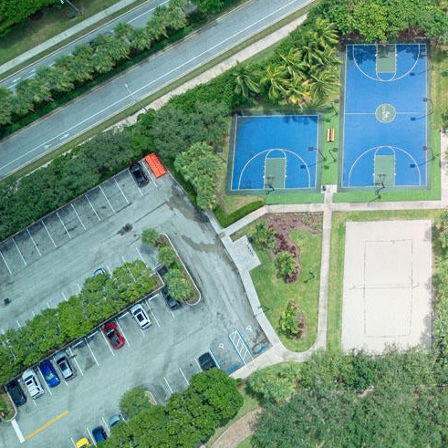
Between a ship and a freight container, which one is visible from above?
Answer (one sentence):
There is a freight container in the scene.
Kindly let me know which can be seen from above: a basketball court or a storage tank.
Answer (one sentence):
The one in the frame is a basketball court.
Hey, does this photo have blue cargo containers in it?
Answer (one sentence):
No, there's no blue cargo container here.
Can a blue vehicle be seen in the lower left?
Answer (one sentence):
Yes, looking in the lower left, one can make out a blue vehicle.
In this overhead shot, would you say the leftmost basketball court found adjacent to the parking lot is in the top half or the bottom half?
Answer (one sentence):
You can find the leftmost basketball court found adjacent to the parking lot in the top half.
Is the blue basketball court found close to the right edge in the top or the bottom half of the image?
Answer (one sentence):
Seen from above, the blue basketball court found close to the right edge lies in the top half of the view.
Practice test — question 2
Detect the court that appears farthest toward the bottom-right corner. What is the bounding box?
[341,220,432,361]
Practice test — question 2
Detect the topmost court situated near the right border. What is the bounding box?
[337,41,431,192]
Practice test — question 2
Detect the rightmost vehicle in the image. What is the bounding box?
[199,351,221,376]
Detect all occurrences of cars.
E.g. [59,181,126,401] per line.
[92,424,110,444]
[78,436,94,448]
[110,413,132,435]
[22,370,46,399]
[130,304,152,329]
[199,351,221,376]
[5,377,30,407]
[161,289,183,311]
[40,359,61,387]
[129,164,150,188]
[55,353,76,380]
[104,322,125,350]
